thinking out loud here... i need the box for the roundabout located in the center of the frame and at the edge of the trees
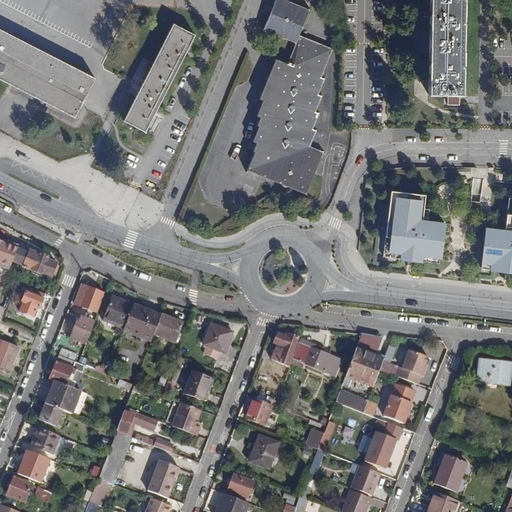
[239,228,327,316]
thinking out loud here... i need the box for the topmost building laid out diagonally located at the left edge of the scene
[0,29,96,118]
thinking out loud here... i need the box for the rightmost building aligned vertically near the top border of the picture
[430,0,467,100]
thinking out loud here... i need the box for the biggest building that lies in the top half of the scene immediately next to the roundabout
[246,36,332,194]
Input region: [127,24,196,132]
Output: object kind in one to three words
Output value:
building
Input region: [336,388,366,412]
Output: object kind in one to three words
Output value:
house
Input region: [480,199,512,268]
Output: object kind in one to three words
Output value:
building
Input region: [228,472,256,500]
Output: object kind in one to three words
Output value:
house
